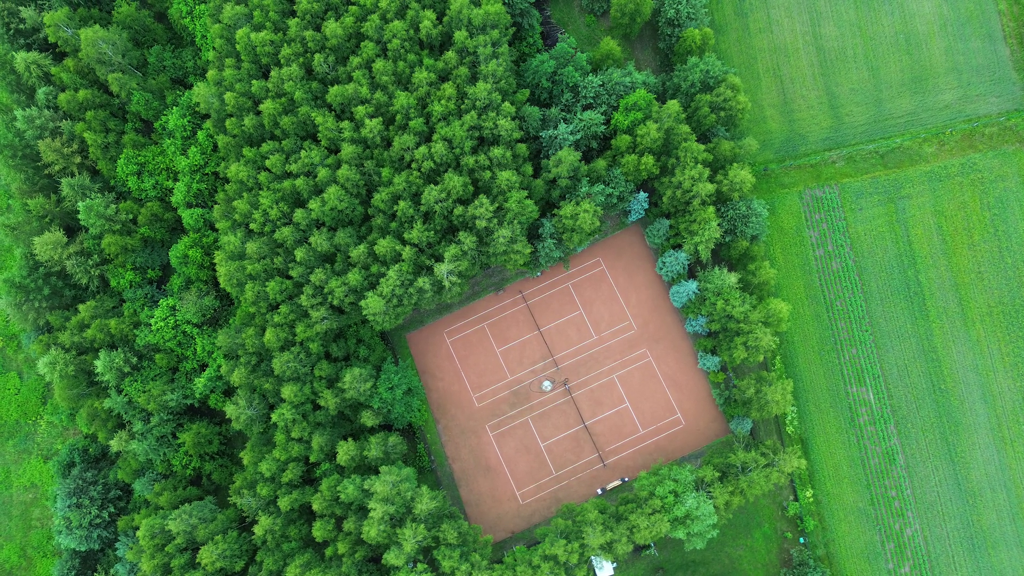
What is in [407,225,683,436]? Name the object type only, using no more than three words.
tennis court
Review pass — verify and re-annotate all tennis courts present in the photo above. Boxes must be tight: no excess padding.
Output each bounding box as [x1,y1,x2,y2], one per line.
[407,225,683,436]
[439,321,728,542]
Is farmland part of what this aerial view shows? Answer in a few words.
Yes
